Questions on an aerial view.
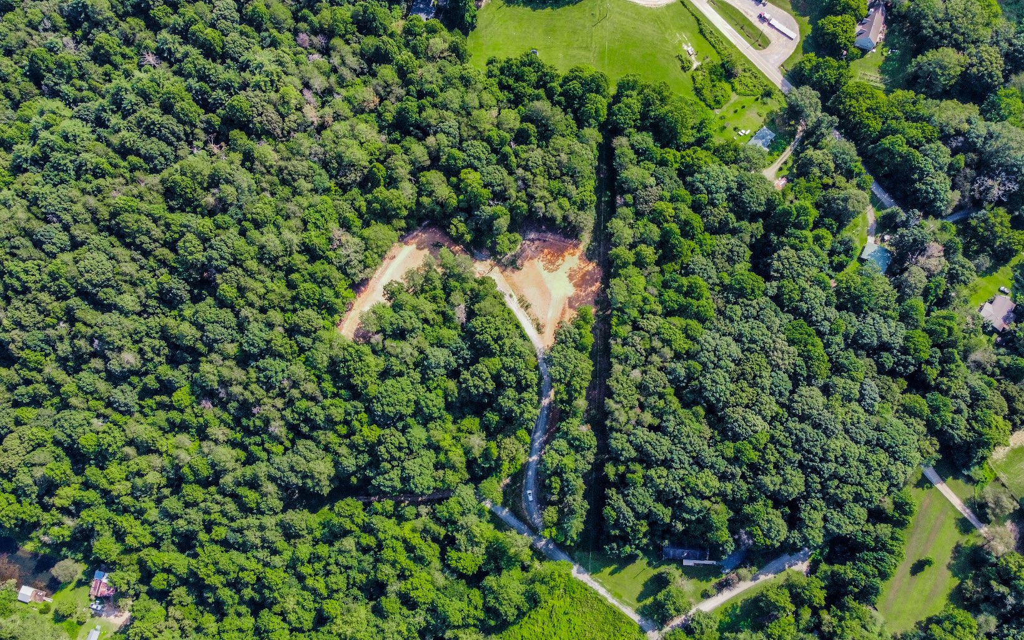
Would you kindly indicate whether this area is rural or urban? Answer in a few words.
rural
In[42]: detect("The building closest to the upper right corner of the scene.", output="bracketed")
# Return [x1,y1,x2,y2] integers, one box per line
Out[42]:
[852,0,889,47]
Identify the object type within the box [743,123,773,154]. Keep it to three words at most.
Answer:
house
